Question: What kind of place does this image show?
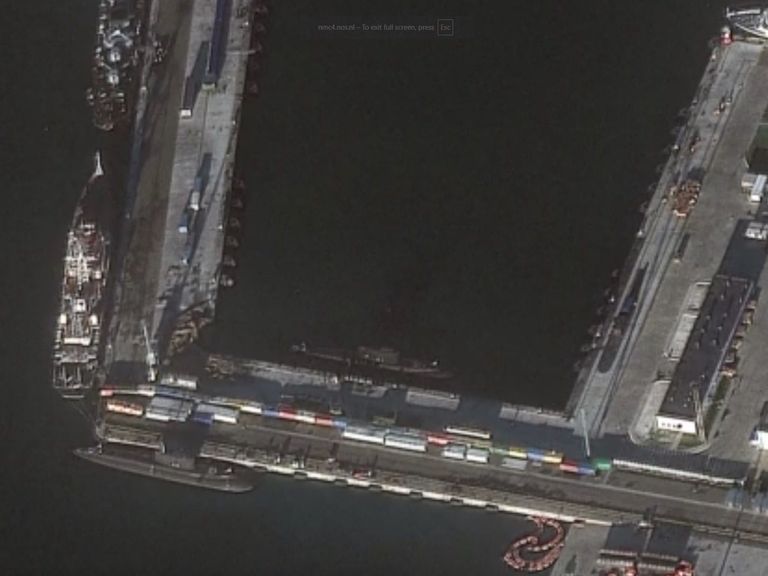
port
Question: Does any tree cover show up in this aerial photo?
No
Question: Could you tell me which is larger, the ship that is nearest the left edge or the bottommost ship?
the ship that is nearest the left edge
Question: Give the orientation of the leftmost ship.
up and down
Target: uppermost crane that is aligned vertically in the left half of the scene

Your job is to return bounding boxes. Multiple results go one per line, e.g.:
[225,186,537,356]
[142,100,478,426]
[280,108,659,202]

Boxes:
[138,320,160,386]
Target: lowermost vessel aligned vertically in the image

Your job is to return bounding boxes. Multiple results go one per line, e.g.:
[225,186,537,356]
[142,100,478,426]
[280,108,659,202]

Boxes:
[53,152,113,406]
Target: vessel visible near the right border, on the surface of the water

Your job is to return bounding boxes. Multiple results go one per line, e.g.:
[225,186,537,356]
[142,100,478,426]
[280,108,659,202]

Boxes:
[727,8,768,42]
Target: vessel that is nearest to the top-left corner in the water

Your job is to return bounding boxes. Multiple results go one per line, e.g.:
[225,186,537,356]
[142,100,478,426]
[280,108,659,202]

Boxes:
[92,0,136,134]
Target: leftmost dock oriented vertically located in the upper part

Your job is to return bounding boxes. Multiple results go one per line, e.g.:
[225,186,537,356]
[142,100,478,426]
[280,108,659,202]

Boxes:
[105,0,252,385]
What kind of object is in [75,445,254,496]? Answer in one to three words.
ship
